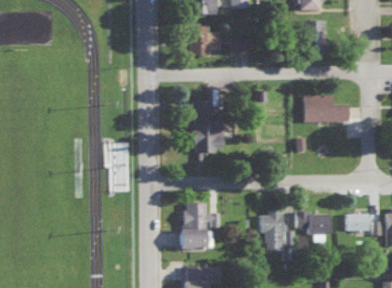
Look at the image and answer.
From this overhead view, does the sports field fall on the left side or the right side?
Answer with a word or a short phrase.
left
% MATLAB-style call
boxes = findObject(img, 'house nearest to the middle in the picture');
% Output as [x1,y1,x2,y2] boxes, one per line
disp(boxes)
[192,127,226,161]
